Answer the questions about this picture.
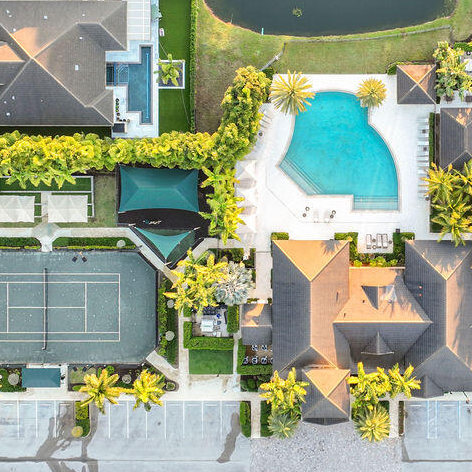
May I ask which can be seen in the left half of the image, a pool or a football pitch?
pool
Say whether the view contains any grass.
Yes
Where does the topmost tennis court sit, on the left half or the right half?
left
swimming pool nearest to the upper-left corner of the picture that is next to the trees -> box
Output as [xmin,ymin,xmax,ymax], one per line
[109,45,152,125]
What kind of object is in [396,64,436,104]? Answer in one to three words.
building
